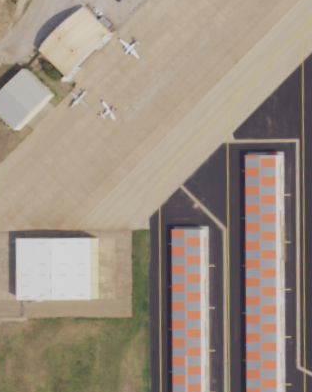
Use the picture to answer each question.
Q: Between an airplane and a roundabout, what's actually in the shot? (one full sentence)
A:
Visible in the photo is an airplane.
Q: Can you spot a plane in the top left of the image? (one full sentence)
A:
Yes, a plane is visible in the top left of the image.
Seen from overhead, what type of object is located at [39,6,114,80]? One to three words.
hangar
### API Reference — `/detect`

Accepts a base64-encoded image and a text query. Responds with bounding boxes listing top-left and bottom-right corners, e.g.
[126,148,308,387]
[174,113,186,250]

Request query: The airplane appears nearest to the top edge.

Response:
[121,37,140,60]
